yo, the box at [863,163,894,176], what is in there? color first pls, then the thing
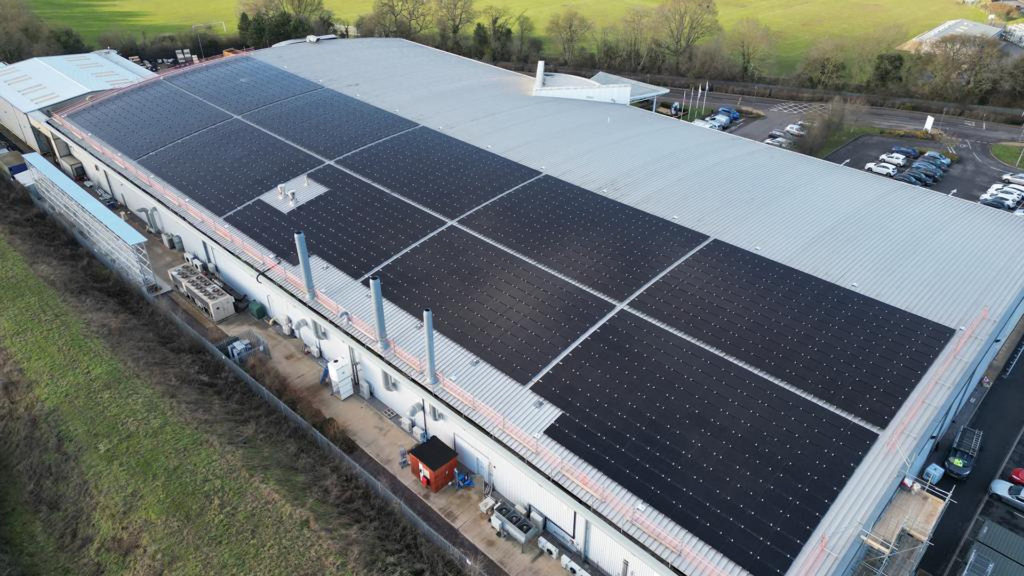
white vehicle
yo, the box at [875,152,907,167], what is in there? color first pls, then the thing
white car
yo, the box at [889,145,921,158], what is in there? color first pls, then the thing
blue vehicle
